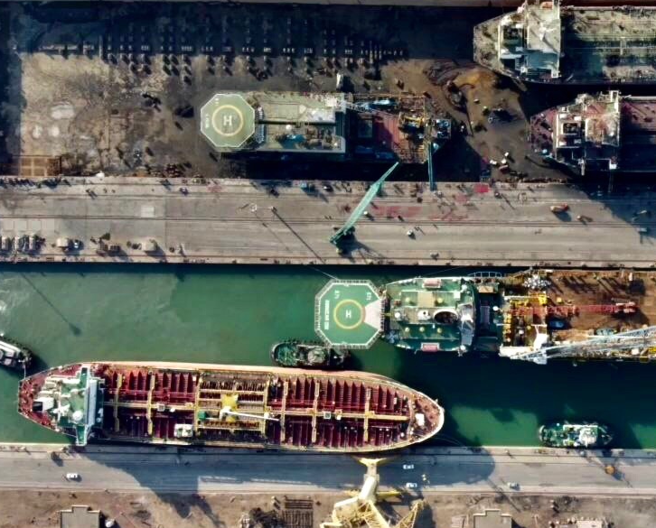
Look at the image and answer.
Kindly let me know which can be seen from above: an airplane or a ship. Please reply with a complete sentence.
Visible in the photo is a ship.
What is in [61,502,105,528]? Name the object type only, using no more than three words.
building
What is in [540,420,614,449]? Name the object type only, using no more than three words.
boat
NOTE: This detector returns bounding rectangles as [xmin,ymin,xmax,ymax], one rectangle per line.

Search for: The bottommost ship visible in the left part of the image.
[17,362,445,451]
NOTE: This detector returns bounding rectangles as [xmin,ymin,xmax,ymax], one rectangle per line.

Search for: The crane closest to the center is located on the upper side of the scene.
[322,161,401,253]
